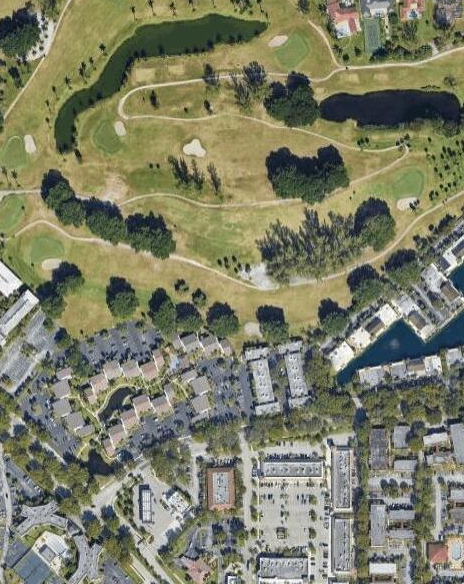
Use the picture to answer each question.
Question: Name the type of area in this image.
golf course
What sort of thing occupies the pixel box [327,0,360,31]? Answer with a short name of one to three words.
house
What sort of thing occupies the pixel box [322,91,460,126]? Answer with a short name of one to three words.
pond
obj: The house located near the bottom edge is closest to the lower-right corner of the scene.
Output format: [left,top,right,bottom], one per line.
[429,542,449,564]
